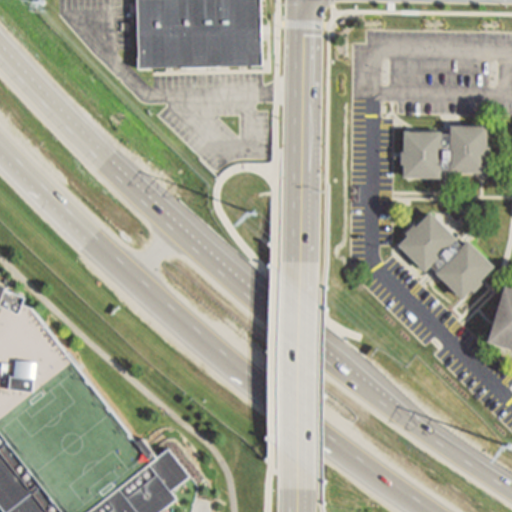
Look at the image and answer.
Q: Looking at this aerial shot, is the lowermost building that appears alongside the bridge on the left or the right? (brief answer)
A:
left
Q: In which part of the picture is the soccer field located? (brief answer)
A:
bottom left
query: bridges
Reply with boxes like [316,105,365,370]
[265,150,328,512]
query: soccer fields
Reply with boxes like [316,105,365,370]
[0,364,148,512]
